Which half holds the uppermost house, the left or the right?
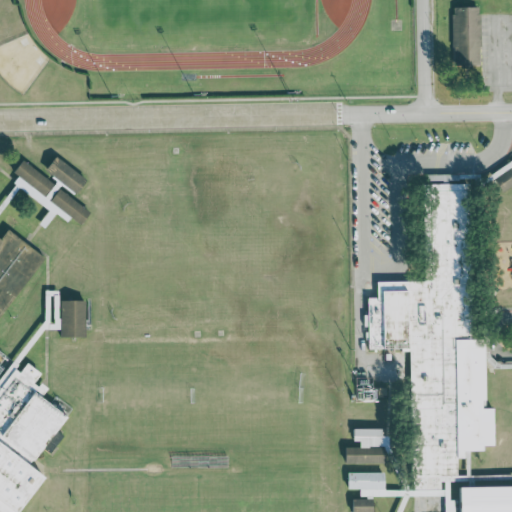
right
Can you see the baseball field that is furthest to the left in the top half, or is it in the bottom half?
top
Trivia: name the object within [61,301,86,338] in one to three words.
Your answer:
house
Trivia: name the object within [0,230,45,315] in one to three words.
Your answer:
building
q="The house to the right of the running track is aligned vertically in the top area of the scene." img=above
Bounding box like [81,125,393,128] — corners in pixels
[452,7,481,66]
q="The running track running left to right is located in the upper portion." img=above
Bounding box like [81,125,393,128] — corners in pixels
[24,0,370,72]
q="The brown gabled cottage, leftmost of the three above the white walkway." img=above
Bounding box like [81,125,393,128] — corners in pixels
[16,160,56,196]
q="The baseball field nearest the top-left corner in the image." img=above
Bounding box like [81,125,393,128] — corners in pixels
[0,33,48,94]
